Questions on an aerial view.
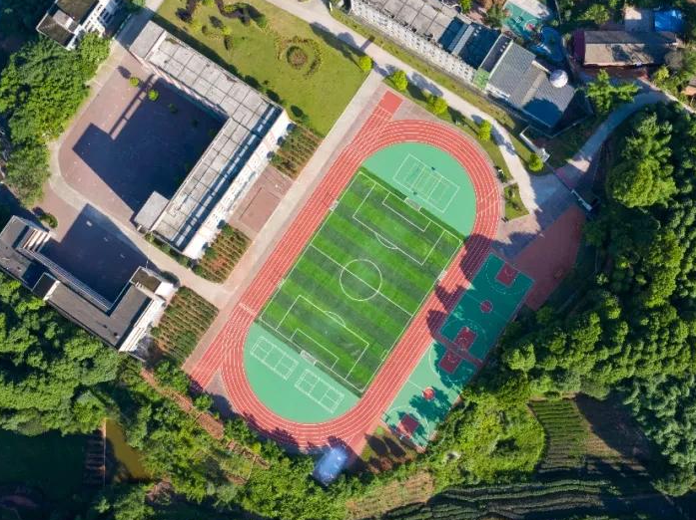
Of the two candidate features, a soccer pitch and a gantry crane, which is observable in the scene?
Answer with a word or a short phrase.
soccer pitch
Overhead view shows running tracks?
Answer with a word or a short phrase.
Yes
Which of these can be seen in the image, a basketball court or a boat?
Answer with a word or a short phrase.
basketball court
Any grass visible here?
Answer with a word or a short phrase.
Yes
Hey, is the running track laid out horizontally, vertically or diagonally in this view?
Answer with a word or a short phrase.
diagonally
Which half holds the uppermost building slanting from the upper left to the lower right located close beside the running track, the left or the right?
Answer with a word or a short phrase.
right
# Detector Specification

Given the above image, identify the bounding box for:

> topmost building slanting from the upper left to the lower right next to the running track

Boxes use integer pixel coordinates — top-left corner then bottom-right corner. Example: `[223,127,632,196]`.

[351,0,575,133]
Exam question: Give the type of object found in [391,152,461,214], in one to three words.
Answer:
sports court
